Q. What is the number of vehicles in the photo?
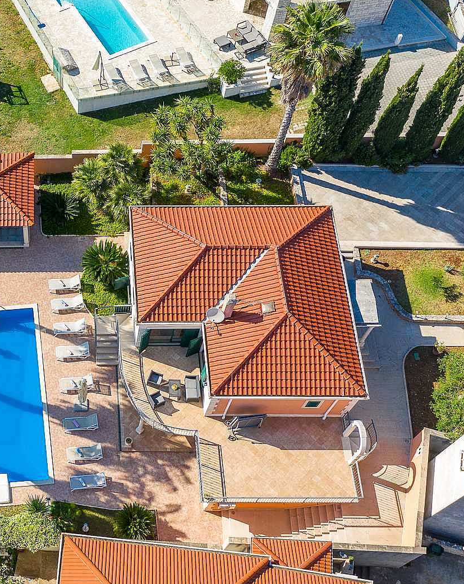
0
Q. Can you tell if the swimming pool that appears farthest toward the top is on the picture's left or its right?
left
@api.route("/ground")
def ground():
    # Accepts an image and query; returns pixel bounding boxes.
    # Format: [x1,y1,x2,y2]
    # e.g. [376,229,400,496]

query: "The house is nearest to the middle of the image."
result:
[120,203,382,421]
